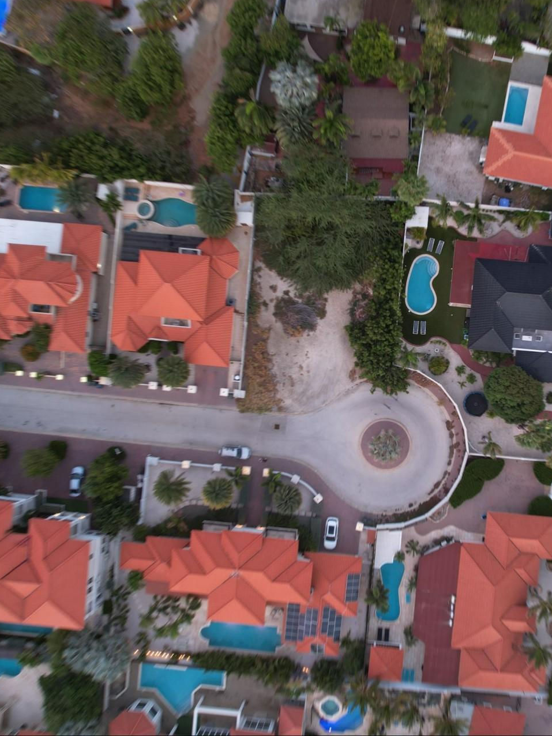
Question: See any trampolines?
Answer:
Yes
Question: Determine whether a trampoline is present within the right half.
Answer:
Yes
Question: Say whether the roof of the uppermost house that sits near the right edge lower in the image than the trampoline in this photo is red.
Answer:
Yes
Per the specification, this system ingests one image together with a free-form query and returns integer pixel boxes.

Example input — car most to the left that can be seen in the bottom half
[67,466,84,498]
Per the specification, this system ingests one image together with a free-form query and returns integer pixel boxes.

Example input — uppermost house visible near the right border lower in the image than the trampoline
[413,510,552,695]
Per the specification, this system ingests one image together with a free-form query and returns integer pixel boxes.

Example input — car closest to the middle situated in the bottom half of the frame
[218,445,251,462]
